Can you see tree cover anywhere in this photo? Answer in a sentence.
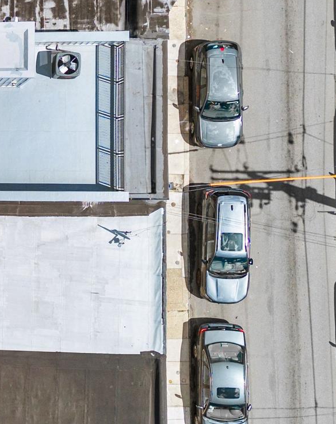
No, the scene doesn't show any tree cover.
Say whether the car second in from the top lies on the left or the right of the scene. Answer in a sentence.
It is on the right.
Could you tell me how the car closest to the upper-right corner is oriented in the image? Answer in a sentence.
The car closest to the upper-right corner is oriented up and down.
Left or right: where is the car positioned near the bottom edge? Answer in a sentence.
It is on the right.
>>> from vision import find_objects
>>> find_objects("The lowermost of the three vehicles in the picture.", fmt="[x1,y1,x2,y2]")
[192,316,254,424]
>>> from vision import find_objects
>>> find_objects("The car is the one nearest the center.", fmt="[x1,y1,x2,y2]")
[196,179,257,303]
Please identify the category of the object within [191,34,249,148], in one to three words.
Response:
car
